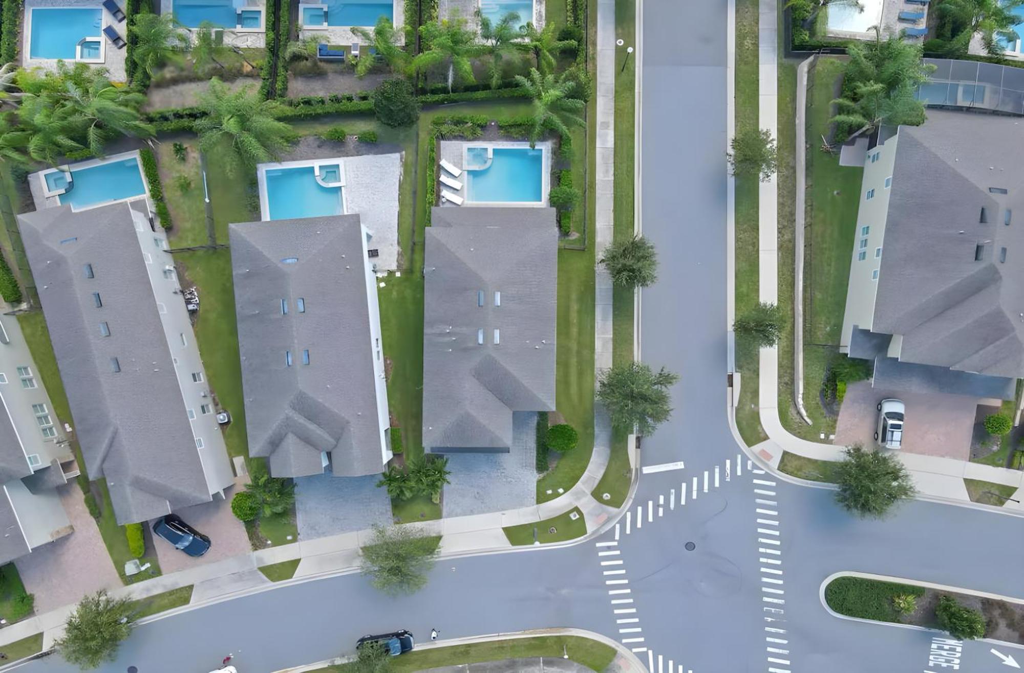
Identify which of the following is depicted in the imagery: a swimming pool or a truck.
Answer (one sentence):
The one in the frame is a swimming pool.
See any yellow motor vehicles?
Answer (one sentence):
No, no yellow motor vehicle can be seen from above.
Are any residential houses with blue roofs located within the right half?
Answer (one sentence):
No, no residential house with a blue roof is visible within the right half.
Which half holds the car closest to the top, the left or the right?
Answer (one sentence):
The car closest to the top appears in the right half of the scene.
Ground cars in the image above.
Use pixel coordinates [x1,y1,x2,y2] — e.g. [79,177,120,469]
[877,397,911,451]
[190,663,239,673]
[152,513,211,558]
[354,629,413,661]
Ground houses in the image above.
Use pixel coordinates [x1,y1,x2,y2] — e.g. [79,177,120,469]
[424,207,558,454]
[16,197,237,525]
[0,244,82,565]
[228,214,393,478]
[843,109,1024,400]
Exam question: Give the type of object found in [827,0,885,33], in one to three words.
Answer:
swimming pool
